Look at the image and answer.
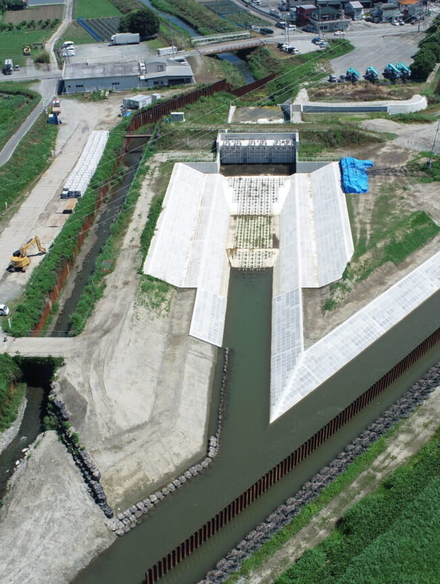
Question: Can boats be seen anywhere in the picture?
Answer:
No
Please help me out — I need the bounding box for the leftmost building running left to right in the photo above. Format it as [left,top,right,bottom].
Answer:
[58,58,140,93]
